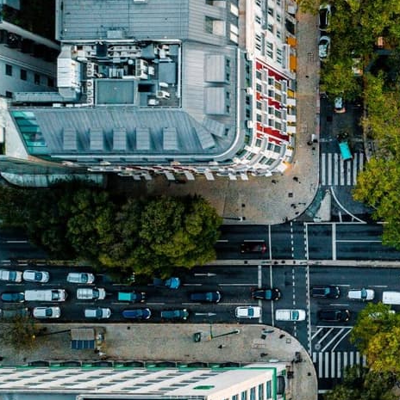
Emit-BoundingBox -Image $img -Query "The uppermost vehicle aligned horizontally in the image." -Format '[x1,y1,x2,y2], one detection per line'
[239,241,269,255]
